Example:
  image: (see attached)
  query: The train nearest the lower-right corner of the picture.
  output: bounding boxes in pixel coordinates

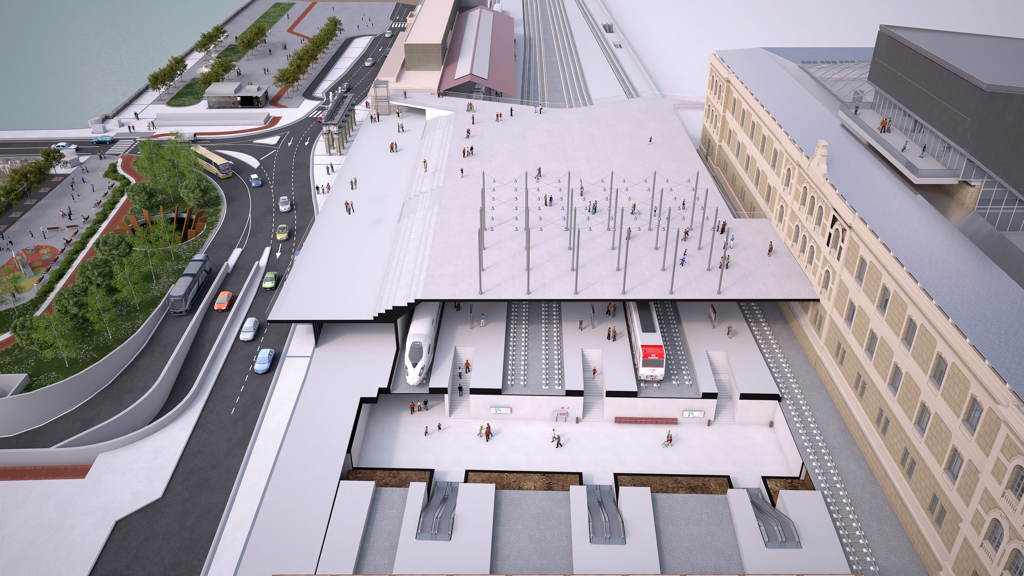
[624,302,670,382]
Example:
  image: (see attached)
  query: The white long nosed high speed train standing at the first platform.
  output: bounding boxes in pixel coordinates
[401,303,440,381]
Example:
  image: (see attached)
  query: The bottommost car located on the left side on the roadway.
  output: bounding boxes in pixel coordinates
[252,348,275,380]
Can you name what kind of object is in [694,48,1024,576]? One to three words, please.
building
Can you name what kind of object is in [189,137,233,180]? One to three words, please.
bus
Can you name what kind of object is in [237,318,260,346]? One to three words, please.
car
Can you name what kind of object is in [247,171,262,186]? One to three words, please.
car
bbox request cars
[273,224,292,242]
[383,47,392,56]
[340,82,351,92]
[89,133,115,144]
[290,247,302,267]
[275,195,293,212]
[316,109,328,121]
[211,293,236,316]
[259,270,279,292]
[247,171,262,186]
[365,57,374,66]
[384,29,393,37]
[48,139,79,149]
[237,318,260,346]
[252,348,275,380]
